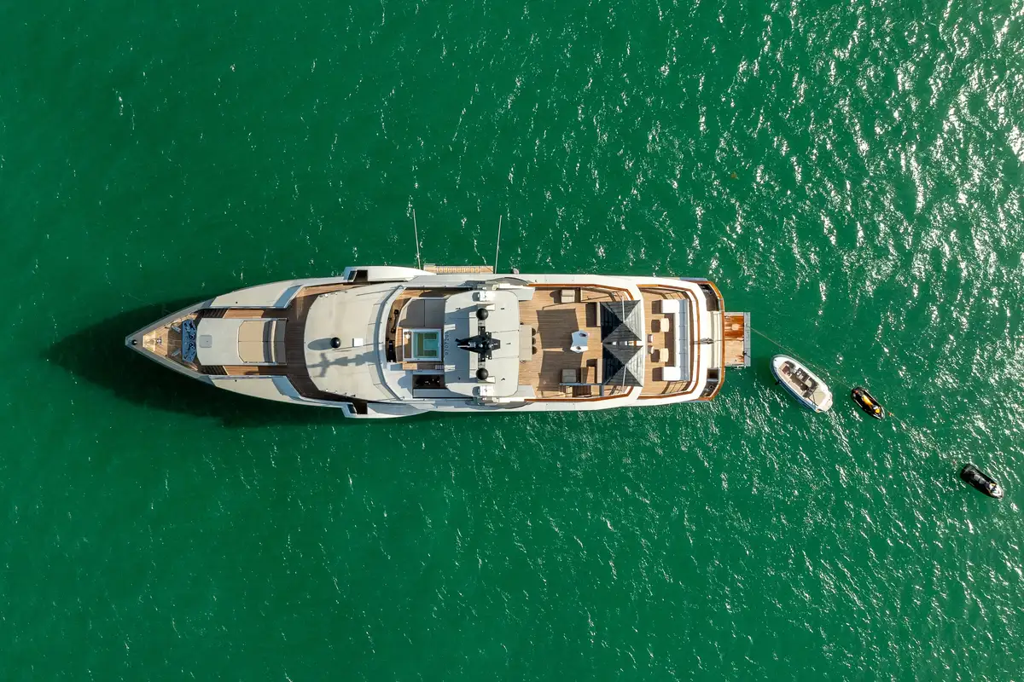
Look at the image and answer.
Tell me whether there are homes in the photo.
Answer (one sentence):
No, no home can be seen from above.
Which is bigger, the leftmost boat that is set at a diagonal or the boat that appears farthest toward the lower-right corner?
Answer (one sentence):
The leftmost boat that is set at a diagonal is larger than the boat that appears farthest toward the lower-right corner.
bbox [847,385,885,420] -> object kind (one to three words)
boat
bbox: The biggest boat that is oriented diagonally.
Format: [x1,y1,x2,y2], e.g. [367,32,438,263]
[769,356,835,416]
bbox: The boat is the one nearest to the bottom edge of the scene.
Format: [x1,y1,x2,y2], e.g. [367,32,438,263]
[957,461,1002,498]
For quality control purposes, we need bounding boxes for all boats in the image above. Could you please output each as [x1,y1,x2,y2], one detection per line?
[125,209,751,418]
[847,385,885,420]
[957,461,1002,498]
[769,356,835,416]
